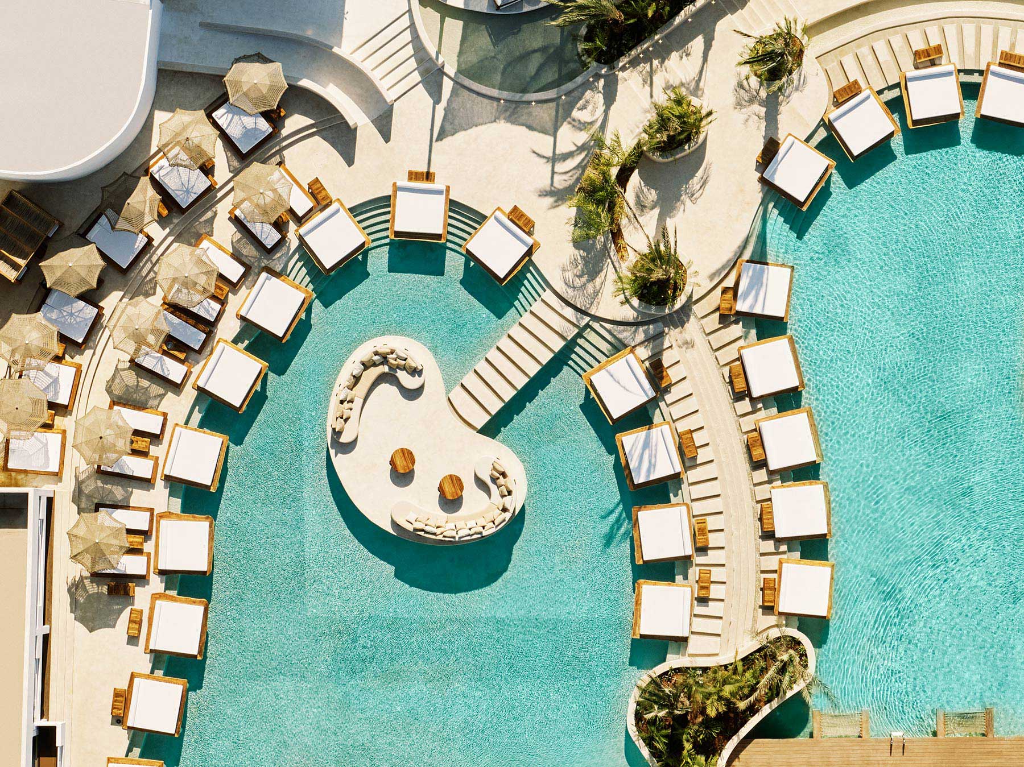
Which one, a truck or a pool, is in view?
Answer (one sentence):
Of the two, only a pool appears.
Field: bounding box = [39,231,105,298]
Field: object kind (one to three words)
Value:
umbrella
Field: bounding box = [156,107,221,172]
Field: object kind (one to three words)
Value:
umbrella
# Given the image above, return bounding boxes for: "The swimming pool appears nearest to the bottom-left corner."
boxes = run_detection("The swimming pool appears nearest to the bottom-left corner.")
[126,195,692,767]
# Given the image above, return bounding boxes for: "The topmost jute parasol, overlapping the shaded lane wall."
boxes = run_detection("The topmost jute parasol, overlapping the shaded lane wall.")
[223,50,290,116]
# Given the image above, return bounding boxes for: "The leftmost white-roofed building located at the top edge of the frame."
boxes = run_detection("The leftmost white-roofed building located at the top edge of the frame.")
[0,0,160,182]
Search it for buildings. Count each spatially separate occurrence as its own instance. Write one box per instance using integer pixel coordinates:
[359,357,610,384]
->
[0,485,66,767]
[0,0,160,182]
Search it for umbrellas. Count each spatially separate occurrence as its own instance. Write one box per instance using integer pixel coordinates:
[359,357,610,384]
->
[223,50,290,116]
[96,171,162,237]
[39,231,105,298]
[105,295,171,361]
[0,376,50,439]
[156,107,221,172]
[155,243,221,309]
[67,507,132,572]
[0,311,61,374]
[231,160,294,223]
[70,405,134,469]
